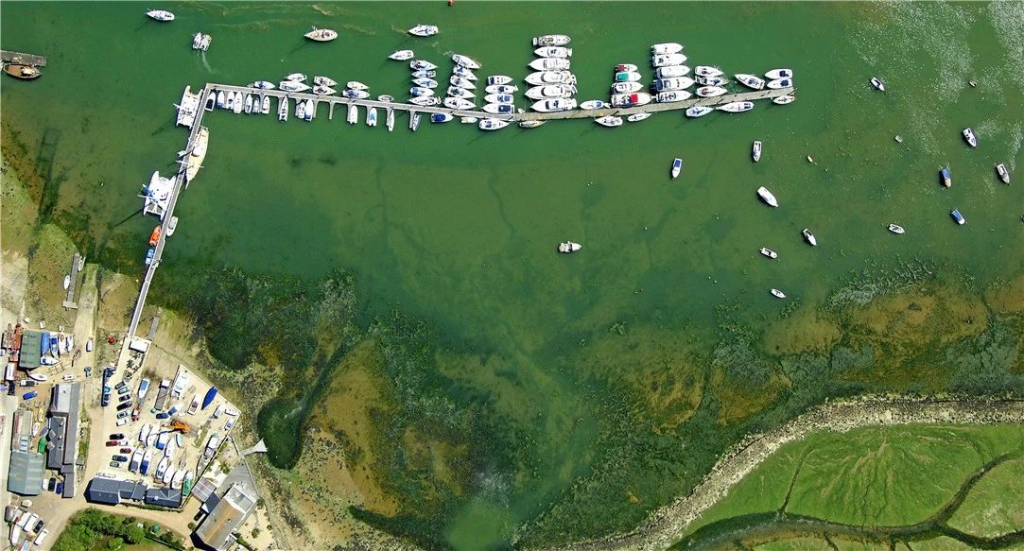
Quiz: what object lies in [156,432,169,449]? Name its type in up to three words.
boat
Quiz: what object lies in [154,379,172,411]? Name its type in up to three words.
ship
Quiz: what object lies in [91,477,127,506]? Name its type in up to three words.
house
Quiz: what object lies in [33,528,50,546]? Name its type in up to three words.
vehicle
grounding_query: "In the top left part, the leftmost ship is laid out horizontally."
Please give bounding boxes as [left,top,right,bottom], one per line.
[2,63,41,77]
